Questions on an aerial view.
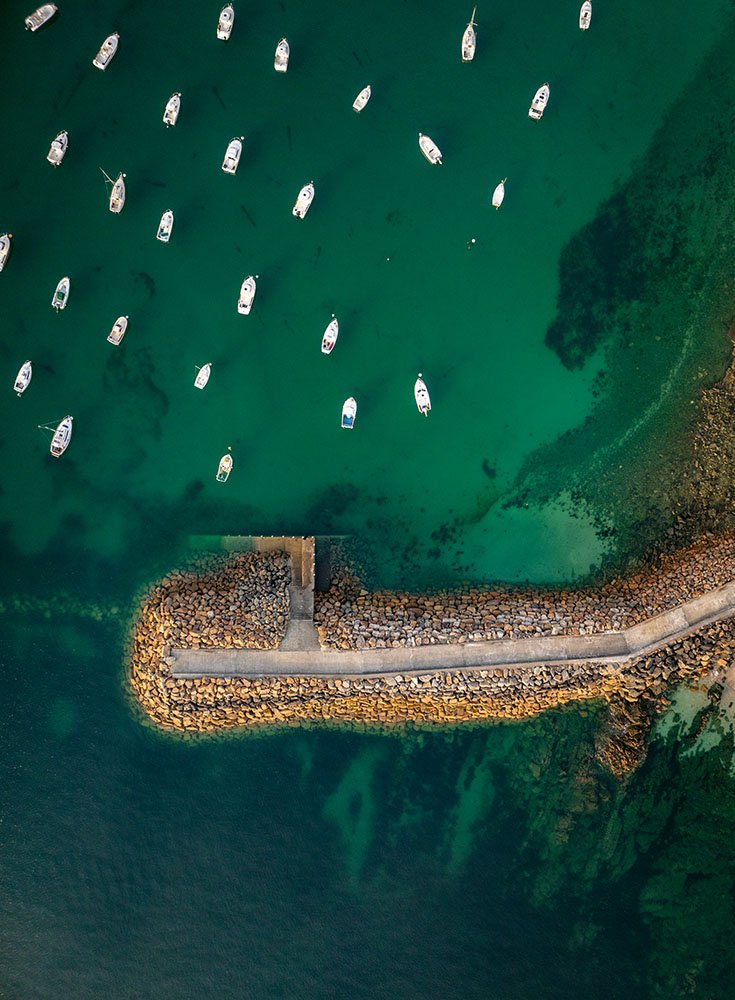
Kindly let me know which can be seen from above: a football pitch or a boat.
boat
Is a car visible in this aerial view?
No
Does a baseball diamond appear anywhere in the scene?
No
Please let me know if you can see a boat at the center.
Yes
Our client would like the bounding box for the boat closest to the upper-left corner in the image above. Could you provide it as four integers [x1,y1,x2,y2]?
[26,7,60,35]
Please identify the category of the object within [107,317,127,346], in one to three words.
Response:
boat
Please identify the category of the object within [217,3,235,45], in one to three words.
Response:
boat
